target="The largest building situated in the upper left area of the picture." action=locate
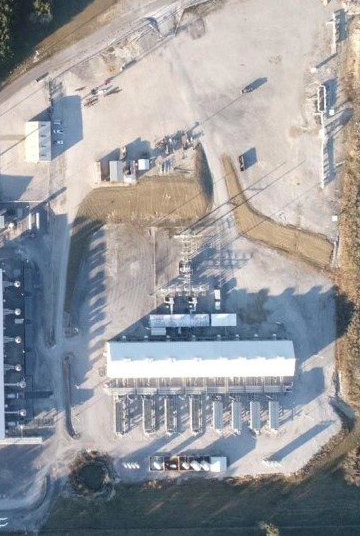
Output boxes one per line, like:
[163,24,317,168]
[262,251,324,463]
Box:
[24,121,51,162]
